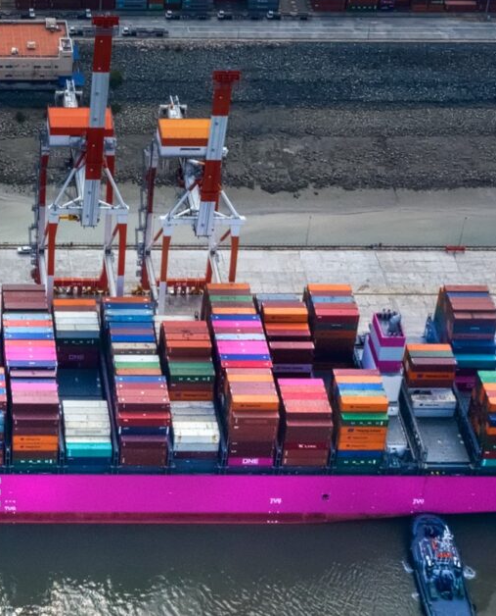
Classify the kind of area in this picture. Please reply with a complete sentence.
What you see here is a port.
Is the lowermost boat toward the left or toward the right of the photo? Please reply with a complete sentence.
It is on the right.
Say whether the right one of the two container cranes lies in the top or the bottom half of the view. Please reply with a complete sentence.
You can find the right one of the two container cranes in the top half.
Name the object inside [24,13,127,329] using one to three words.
container crane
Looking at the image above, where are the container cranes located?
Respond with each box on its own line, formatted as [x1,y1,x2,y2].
[130,69,245,316]
[24,13,127,329]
